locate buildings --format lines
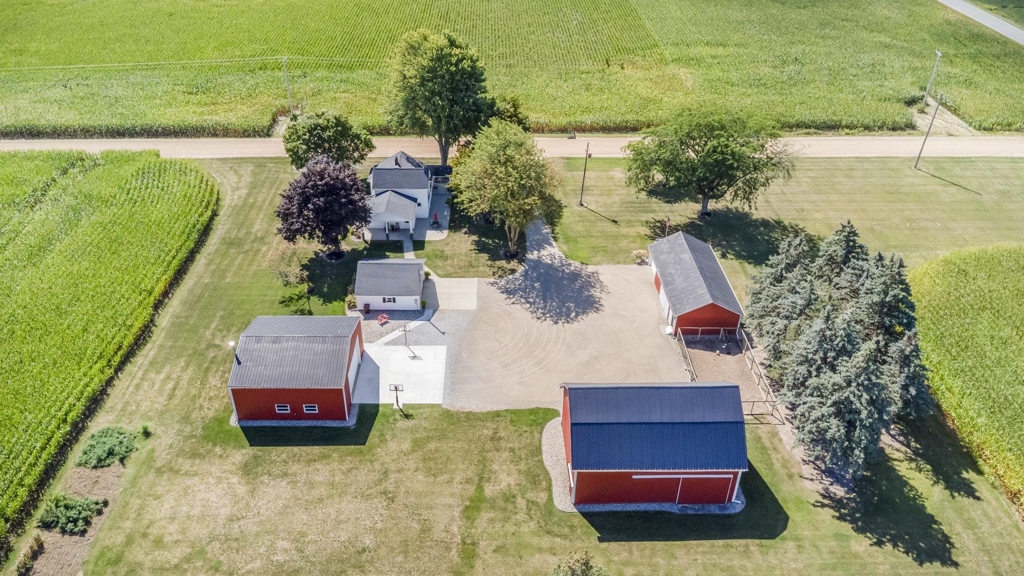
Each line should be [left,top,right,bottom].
[227,316,363,422]
[353,259,426,310]
[559,383,748,503]
[360,149,455,240]
[647,231,746,338]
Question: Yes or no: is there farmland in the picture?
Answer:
Yes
